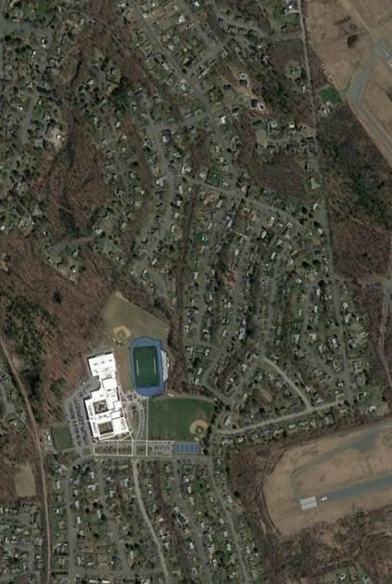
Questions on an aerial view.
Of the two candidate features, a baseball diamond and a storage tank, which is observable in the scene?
baseball diamond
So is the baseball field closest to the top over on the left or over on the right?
left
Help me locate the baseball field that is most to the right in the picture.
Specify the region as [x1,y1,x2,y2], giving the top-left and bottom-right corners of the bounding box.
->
[149,397,216,443]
